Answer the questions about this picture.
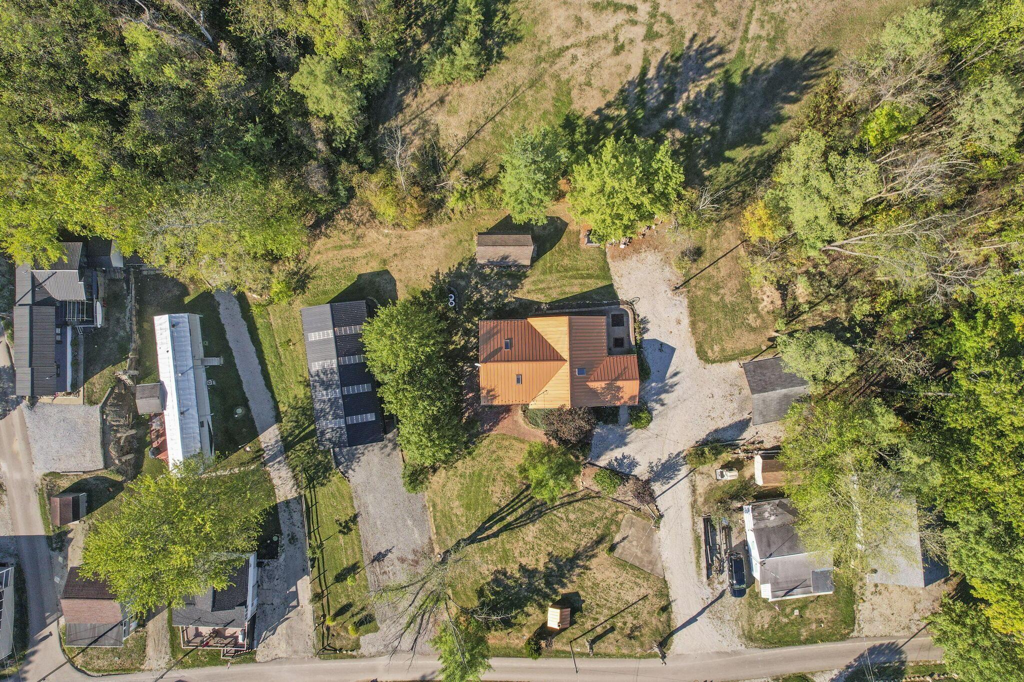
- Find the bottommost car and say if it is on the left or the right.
right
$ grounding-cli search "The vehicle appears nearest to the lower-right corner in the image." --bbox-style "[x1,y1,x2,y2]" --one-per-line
[725,549,750,598]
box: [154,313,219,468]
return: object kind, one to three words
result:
house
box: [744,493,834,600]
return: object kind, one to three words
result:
house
